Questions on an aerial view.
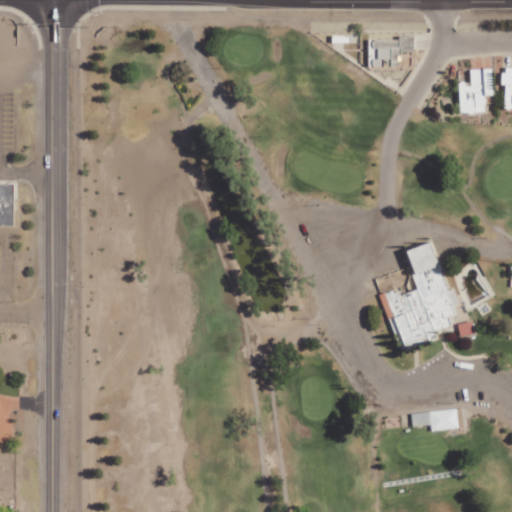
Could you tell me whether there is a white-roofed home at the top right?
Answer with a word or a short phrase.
Yes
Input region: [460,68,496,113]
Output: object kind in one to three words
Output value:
house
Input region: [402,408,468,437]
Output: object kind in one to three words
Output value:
building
